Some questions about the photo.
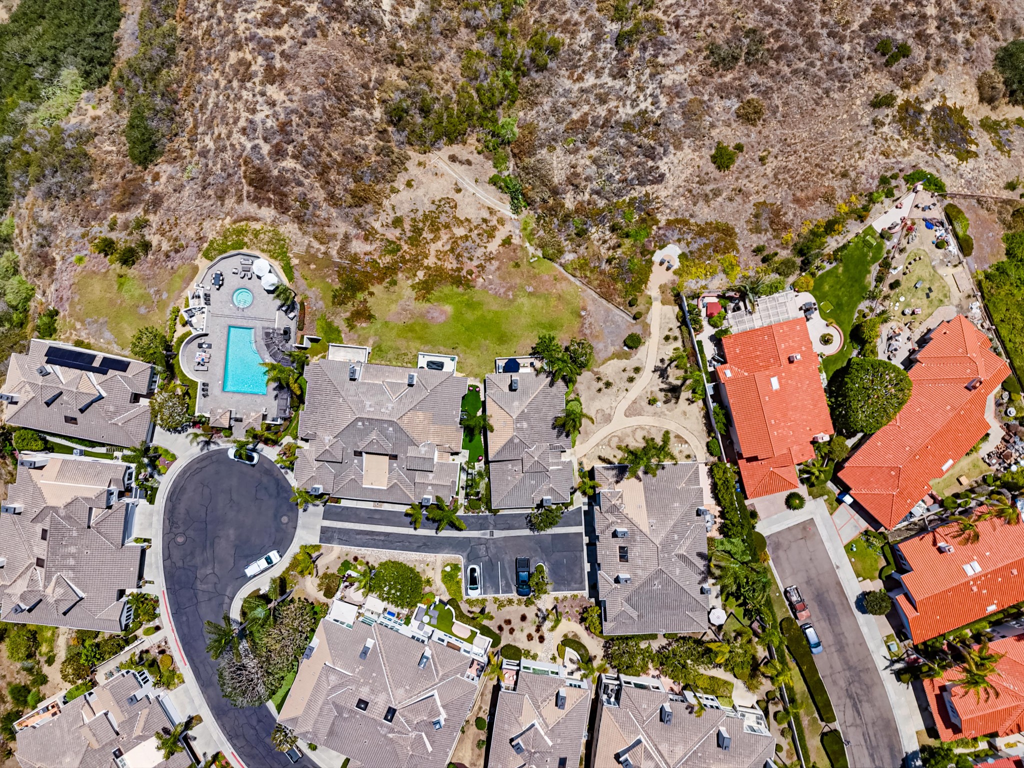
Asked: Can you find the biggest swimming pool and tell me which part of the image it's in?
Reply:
left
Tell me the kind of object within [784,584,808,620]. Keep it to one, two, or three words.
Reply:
truck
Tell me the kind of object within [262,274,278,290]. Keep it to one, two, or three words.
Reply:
umbrella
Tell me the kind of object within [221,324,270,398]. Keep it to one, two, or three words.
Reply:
swimming pool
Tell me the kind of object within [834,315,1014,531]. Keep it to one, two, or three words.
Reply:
house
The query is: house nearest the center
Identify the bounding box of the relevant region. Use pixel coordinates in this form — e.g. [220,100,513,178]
[485,356,574,510]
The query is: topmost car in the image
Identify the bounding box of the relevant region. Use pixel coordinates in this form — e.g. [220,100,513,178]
[228,447,261,465]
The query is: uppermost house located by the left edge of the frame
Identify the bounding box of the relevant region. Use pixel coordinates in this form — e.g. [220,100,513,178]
[0,336,160,447]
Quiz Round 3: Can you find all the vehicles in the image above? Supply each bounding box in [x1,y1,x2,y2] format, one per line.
[801,623,821,653]
[243,551,283,577]
[784,584,808,620]
[515,556,530,596]
[228,447,261,465]
[465,564,481,595]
